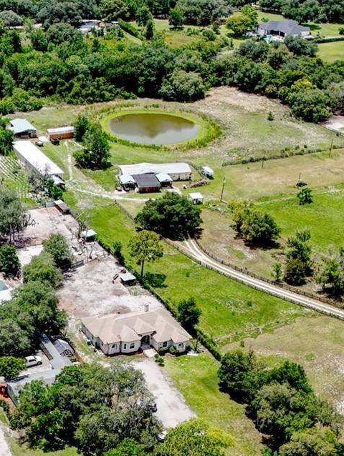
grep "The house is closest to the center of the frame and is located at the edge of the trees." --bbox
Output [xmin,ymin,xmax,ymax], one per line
[111,164,193,198]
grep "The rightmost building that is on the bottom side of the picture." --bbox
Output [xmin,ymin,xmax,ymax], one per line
[83,302,193,357]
